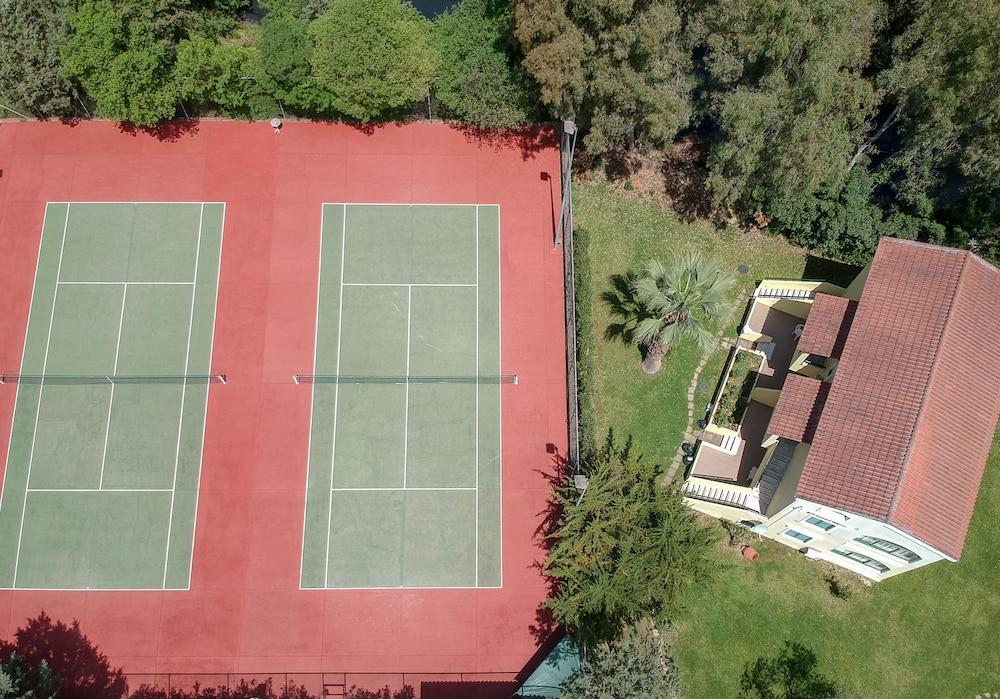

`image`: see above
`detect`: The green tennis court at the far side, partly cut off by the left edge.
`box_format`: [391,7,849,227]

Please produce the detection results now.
[0,203,225,591]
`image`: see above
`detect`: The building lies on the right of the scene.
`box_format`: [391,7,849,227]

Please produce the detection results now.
[755,234,1000,581]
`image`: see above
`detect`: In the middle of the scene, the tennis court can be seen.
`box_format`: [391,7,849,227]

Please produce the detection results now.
[302,204,501,588]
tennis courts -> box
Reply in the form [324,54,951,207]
[302,204,501,588]
[0,203,225,591]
